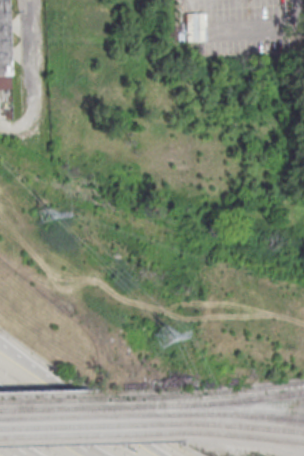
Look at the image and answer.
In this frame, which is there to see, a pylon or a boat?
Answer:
pylon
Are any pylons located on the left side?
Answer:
Yes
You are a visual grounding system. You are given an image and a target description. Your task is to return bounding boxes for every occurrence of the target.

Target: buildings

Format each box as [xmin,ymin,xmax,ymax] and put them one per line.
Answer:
[0,0,14,90]
[185,14,206,44]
